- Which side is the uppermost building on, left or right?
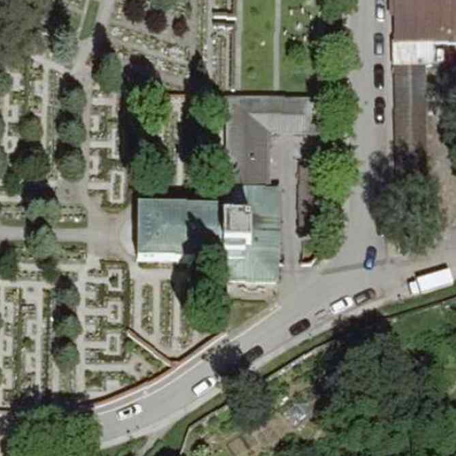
right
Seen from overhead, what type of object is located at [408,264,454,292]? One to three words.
truck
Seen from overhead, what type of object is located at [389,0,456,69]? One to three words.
building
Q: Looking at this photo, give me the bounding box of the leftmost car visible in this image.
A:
[118,404,141,419]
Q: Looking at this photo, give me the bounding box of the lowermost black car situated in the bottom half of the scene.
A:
[241,345,263,361]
